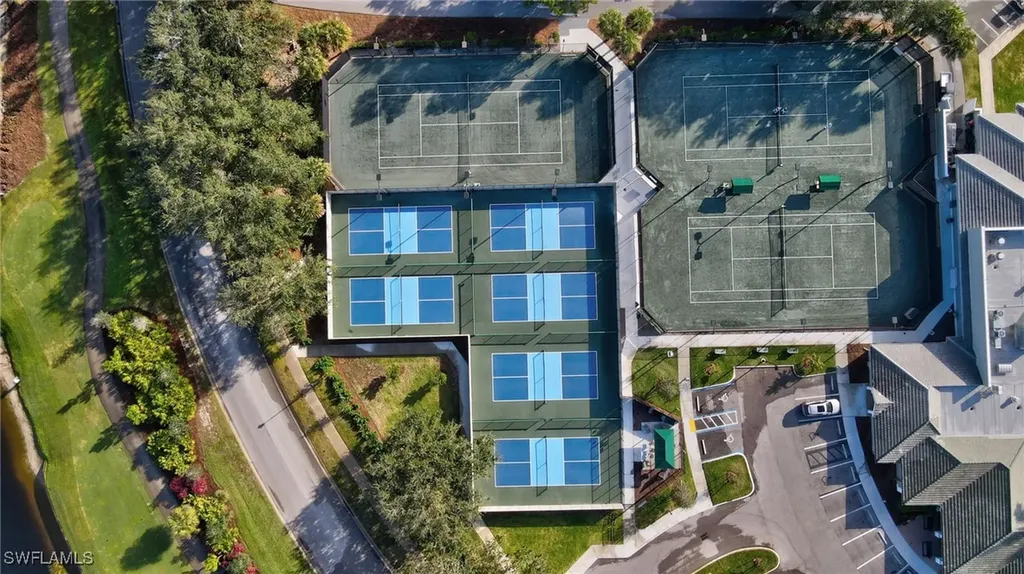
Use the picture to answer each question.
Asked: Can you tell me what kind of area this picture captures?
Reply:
sports ground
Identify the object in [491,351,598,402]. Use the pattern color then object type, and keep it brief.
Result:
blue sports court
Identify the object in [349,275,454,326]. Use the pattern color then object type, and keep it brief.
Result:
blue sports court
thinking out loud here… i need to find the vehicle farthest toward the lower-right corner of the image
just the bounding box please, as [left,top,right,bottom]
[803,400,841,418]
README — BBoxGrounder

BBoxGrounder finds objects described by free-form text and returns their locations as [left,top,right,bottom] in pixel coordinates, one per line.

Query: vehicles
[1008,0,1024,17]
[803,400,841,418]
